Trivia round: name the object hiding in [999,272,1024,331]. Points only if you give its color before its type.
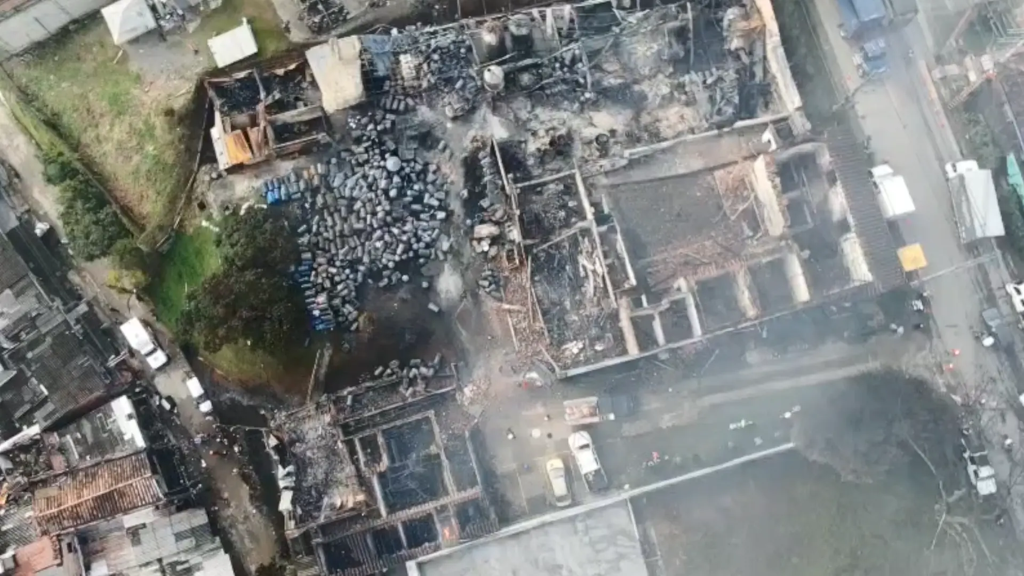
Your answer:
white vehicle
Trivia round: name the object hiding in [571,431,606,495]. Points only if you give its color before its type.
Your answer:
white truck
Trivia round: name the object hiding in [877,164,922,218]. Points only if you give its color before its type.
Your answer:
white truck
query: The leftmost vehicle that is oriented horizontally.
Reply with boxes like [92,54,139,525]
[564,395,637,426]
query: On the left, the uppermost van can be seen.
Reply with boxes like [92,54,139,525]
[111,316,166,371]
